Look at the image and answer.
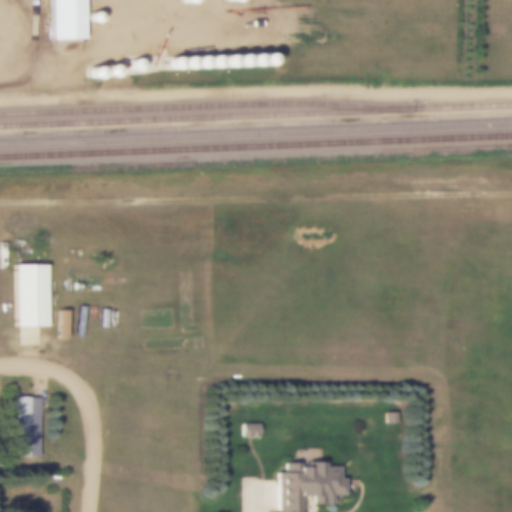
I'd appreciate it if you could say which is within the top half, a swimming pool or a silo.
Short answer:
silo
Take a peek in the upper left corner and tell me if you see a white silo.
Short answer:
Yes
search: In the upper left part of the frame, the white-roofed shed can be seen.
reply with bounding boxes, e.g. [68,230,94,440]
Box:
[51,0,90,40]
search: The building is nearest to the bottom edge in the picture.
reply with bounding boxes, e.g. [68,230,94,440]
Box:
[278,462,350,512]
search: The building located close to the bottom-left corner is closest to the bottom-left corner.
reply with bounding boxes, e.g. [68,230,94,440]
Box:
[20,396,44,460]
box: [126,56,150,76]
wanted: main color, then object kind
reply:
white silo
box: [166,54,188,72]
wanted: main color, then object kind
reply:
white silo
